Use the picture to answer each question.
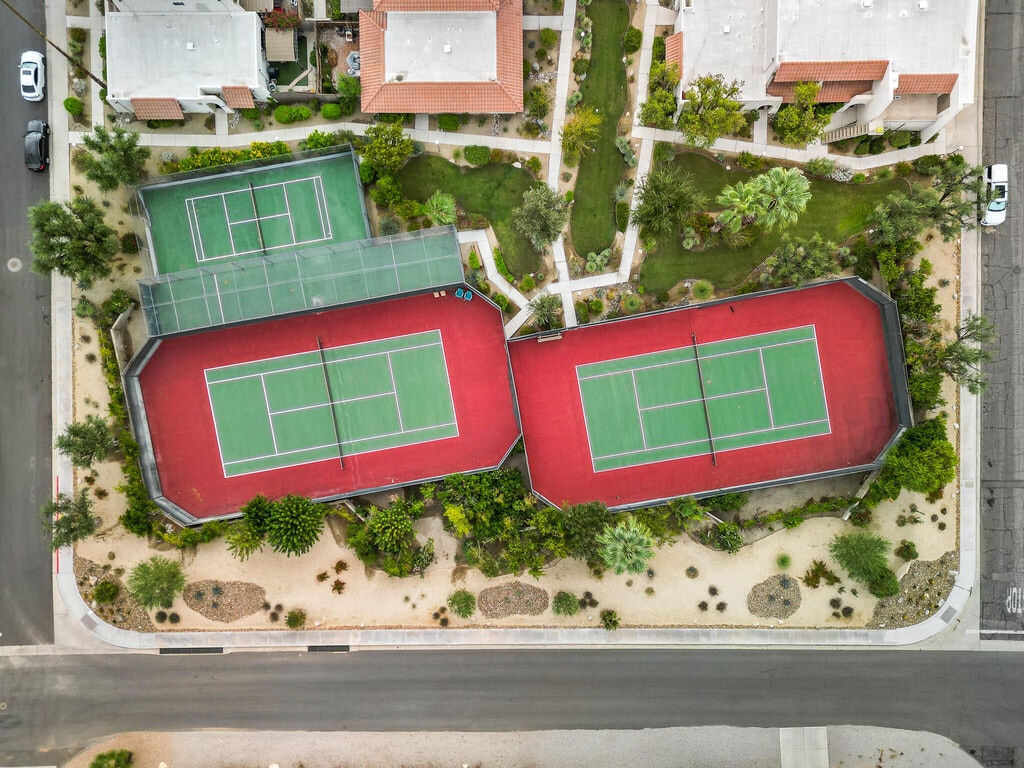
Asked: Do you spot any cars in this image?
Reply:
Yes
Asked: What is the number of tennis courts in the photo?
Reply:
3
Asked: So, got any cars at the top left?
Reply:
Yes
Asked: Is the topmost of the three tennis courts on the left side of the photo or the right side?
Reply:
left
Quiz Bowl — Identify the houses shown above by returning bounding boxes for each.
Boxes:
[768,0,975,147]
[107,13,270,119]
[360,0,524,116]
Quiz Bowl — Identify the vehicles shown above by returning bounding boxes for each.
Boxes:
[18,53,46,101]
[21,122,49,170]
[979,167,1009,227]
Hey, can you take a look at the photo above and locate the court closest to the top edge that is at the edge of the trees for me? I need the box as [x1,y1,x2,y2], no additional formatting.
[141,153,465,334]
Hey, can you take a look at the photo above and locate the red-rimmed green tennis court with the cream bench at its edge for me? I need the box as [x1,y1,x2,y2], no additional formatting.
[510,282,900,514]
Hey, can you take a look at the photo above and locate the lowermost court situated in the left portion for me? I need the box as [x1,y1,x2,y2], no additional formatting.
[138,287,520,519]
